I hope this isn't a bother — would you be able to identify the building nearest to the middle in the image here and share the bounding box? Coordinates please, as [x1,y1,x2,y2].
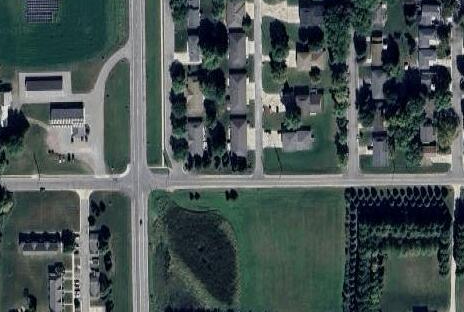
[231,119,247,158]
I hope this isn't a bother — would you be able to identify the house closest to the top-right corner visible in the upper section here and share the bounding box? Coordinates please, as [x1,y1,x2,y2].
[422,4,441,23]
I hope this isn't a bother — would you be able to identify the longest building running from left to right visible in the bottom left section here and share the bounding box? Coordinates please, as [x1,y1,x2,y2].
[21,240,60,256]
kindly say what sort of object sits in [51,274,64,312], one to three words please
building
